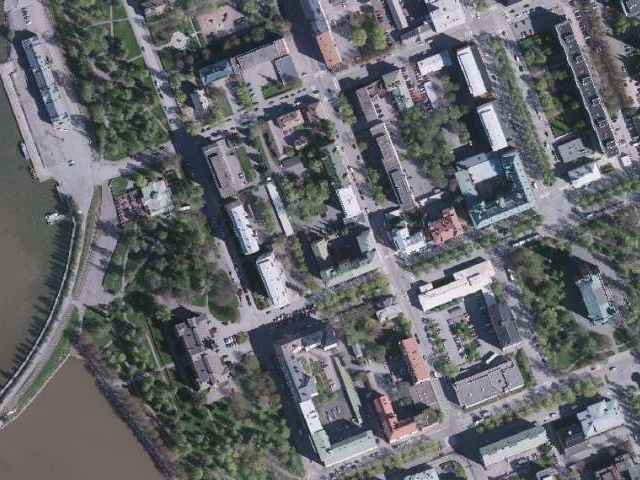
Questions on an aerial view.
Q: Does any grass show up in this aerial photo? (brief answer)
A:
Yes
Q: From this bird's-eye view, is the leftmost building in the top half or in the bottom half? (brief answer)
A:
top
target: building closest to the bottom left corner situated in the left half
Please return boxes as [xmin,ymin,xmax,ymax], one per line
[176,315,225,392]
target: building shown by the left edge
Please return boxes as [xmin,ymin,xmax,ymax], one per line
[23,37,70,129]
